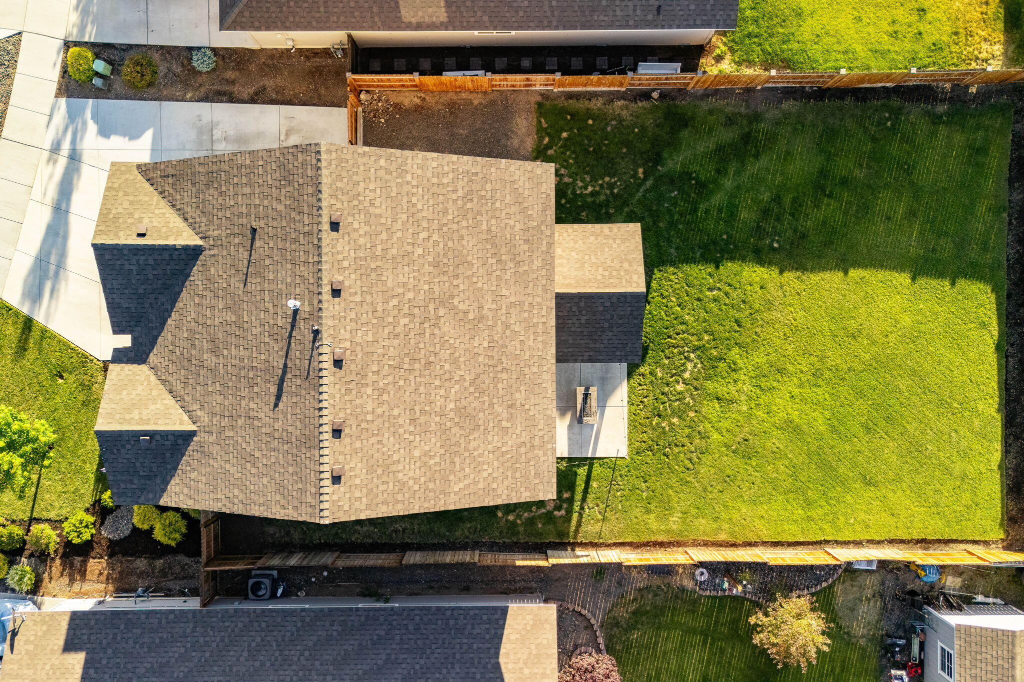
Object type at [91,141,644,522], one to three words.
house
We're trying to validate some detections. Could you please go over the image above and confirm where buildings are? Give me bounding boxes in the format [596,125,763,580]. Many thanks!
[0,596,558,682]
[217,0,740,58]
[91,141,644,522]
[924,604,1024,682]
